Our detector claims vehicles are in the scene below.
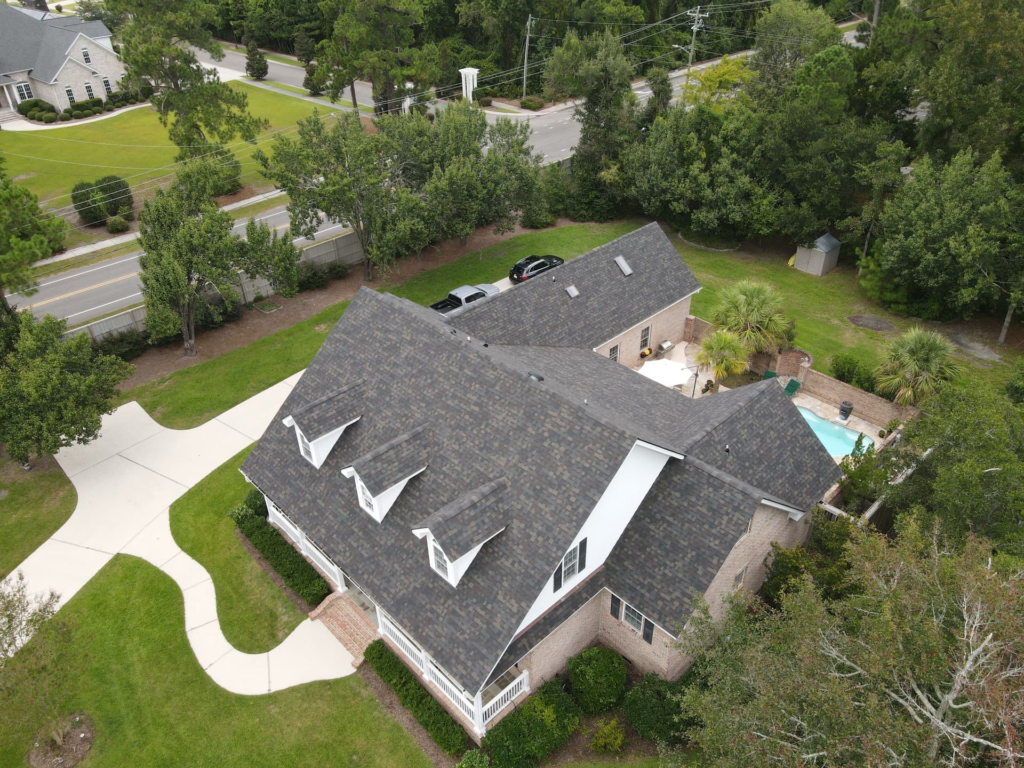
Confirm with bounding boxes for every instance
[509,255,570,287]
[428,284,506,320]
